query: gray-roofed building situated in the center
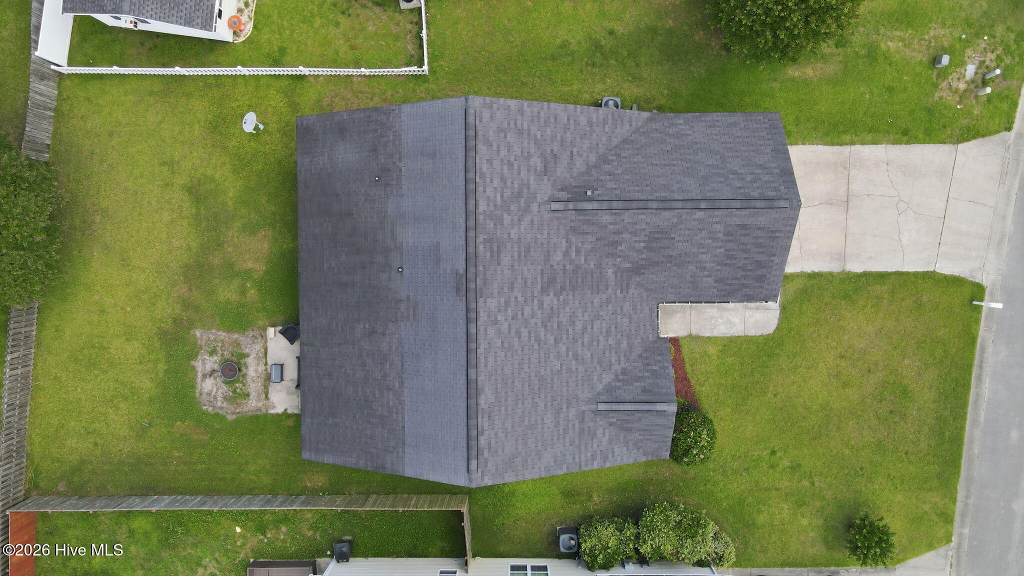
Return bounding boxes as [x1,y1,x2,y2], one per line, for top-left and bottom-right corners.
[295,95,801,488]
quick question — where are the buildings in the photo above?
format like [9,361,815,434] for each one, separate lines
[310,549,715,576]
[295,95,801,488]
[63,0,237,42]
